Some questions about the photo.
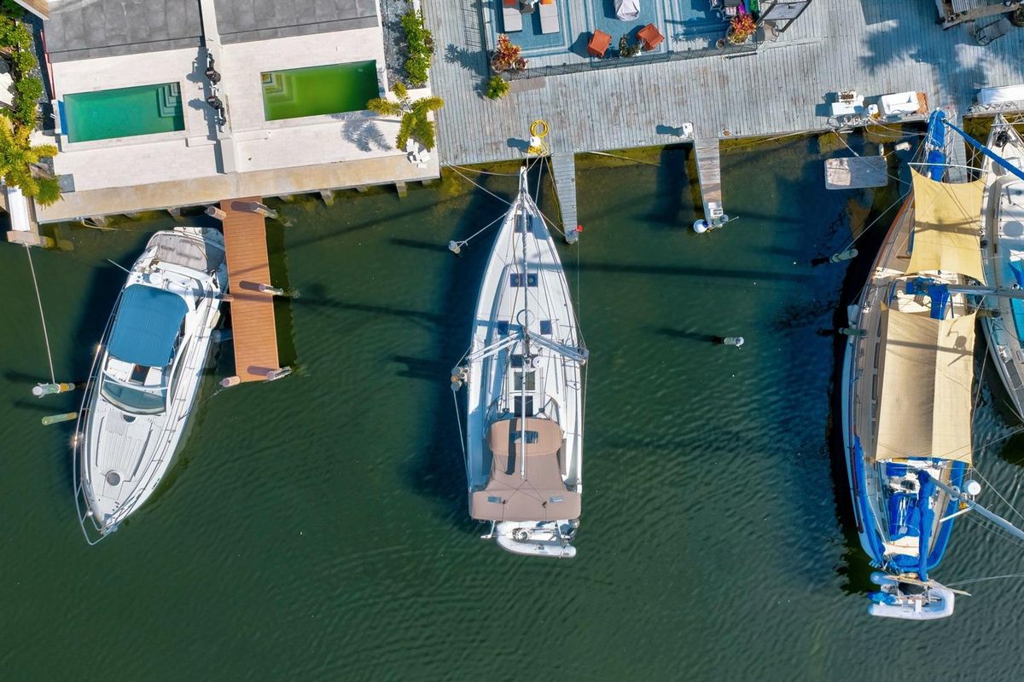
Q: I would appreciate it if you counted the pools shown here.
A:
2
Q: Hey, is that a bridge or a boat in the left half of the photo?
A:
boat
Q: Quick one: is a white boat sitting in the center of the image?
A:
Yes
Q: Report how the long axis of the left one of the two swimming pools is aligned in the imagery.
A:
from side to side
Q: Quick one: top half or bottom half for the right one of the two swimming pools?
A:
top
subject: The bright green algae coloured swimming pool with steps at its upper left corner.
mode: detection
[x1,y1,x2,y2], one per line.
[254,52,387,128]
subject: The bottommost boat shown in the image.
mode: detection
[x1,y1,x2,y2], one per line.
[865,571,955,621]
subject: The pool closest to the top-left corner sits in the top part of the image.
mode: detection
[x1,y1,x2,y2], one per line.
[56,74,193,150]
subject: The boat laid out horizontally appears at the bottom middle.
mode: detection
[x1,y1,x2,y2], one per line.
[495,521,579,559]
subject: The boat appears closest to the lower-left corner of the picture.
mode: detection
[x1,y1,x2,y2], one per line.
[73,227,230,545]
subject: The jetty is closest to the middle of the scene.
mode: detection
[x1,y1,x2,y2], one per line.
[550,152,580,244]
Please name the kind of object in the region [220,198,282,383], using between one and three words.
pier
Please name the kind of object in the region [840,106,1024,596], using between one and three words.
boat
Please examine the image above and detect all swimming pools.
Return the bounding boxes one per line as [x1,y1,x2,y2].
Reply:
[56,74,193,150]
[254,52,387,128]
